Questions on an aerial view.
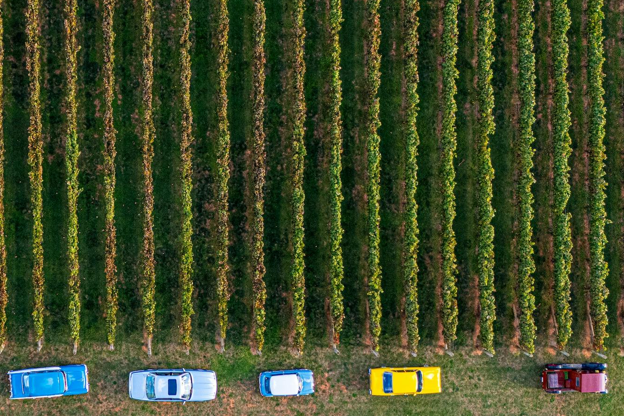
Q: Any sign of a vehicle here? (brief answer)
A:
Yes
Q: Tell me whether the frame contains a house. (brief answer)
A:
No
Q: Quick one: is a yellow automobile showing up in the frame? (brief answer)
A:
Yes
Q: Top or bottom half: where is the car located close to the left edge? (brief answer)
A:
bottom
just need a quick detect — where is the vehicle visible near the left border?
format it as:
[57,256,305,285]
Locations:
[6,364,90,400]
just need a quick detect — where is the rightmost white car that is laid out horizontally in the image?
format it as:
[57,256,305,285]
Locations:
[259,368,315,397]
